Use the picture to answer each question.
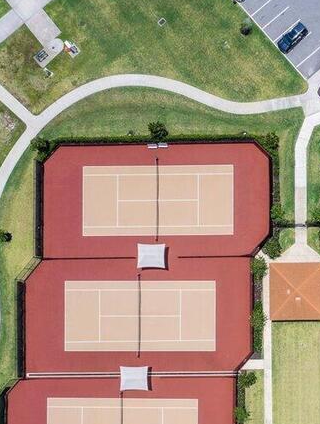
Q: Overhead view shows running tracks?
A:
No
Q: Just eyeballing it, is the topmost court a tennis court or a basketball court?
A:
tennis court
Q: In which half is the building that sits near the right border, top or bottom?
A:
bottom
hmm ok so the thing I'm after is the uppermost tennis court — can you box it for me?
[42,142,268,257]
